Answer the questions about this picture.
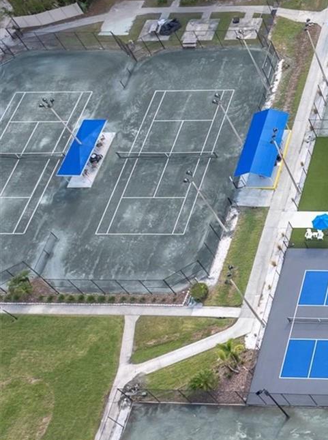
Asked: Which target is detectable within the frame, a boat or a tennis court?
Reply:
tennis court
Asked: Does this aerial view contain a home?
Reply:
No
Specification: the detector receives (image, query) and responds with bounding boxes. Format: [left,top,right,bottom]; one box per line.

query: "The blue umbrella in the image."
[312,212,328,233]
